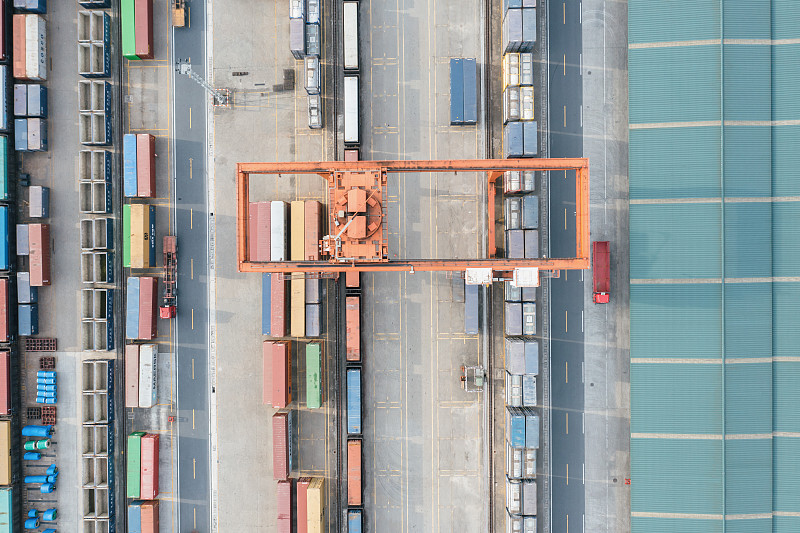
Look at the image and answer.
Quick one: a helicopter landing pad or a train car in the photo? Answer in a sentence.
There is a train car in the scene.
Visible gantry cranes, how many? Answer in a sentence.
My tally gives 1 gantry crane in this photo.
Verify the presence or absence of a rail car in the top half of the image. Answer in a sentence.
Yes, a rail car can be seen in the top half of the image.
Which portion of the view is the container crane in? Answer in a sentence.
The container crane sits in the center section of the image.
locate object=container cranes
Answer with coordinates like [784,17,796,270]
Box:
[238,158,591,288]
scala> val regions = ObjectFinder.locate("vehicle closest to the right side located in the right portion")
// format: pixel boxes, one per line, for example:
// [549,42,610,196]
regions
[593,241,612,304]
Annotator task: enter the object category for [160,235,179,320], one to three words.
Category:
vehicle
